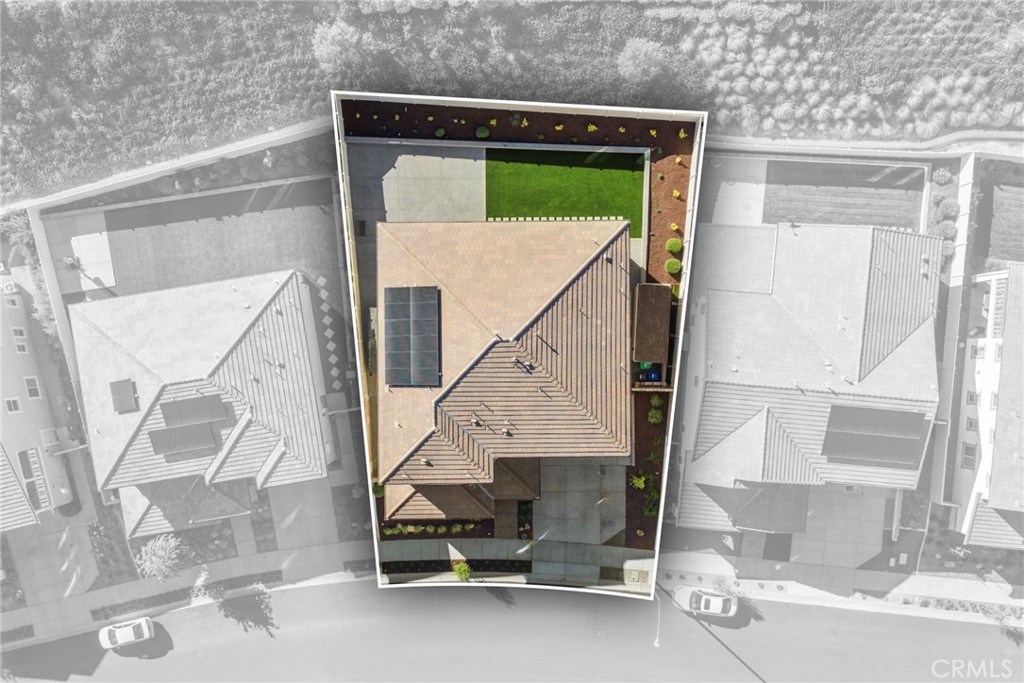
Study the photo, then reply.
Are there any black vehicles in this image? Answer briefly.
No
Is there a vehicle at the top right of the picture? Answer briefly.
No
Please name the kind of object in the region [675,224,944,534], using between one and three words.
house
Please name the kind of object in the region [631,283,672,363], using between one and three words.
shed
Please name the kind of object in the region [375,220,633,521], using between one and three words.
house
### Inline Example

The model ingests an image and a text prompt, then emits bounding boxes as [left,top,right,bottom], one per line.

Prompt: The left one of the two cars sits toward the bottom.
[94,618,153,655]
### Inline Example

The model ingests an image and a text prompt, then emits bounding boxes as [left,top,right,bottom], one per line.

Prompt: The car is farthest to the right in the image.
[676,587,742,621]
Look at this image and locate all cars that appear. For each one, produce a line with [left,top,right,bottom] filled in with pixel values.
[676,587,742,621]
[94,618,153,655]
